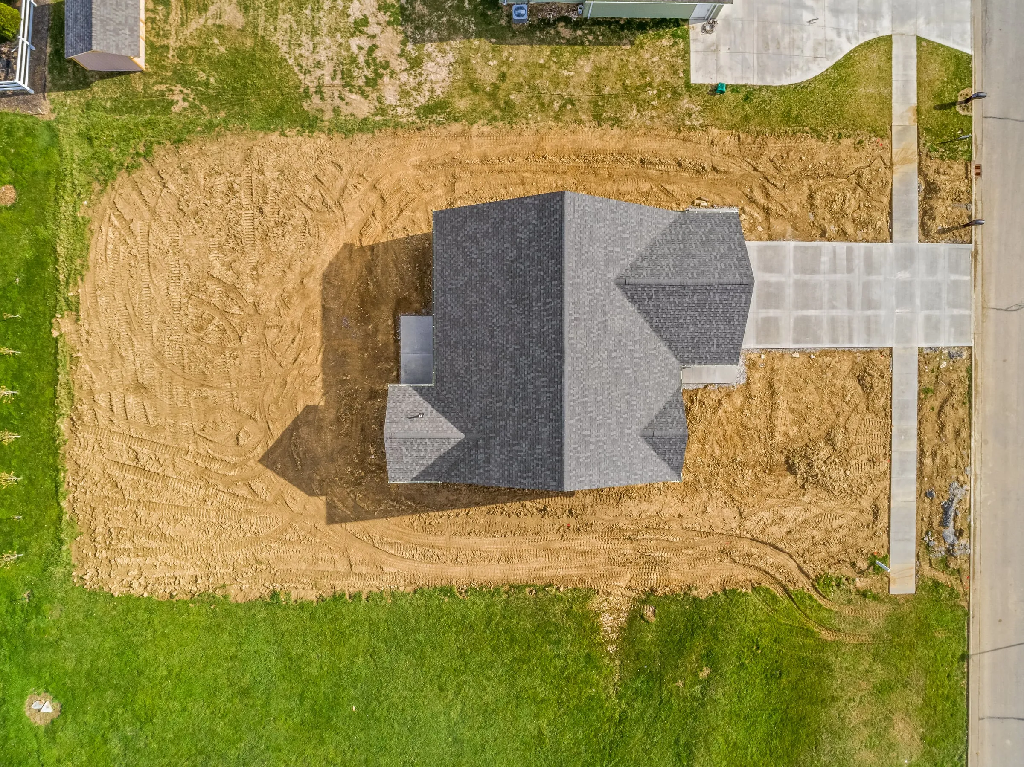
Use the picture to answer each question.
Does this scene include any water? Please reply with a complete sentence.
No, the scene doesn't show any water.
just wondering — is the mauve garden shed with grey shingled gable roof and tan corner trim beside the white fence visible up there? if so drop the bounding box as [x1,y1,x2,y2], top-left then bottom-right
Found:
[65,0,145,71]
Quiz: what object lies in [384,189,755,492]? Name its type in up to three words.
house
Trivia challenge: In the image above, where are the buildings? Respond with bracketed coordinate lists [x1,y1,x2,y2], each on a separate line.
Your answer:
[499,0,733,23]
[384,189,755,492]
[65,0,145,71]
